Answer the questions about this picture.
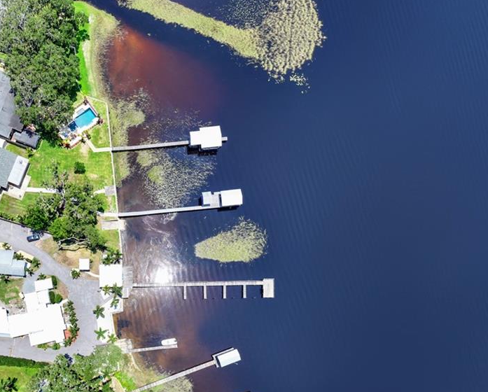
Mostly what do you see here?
water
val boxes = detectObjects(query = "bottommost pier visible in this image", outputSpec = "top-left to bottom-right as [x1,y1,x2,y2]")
[129,346,234,392]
